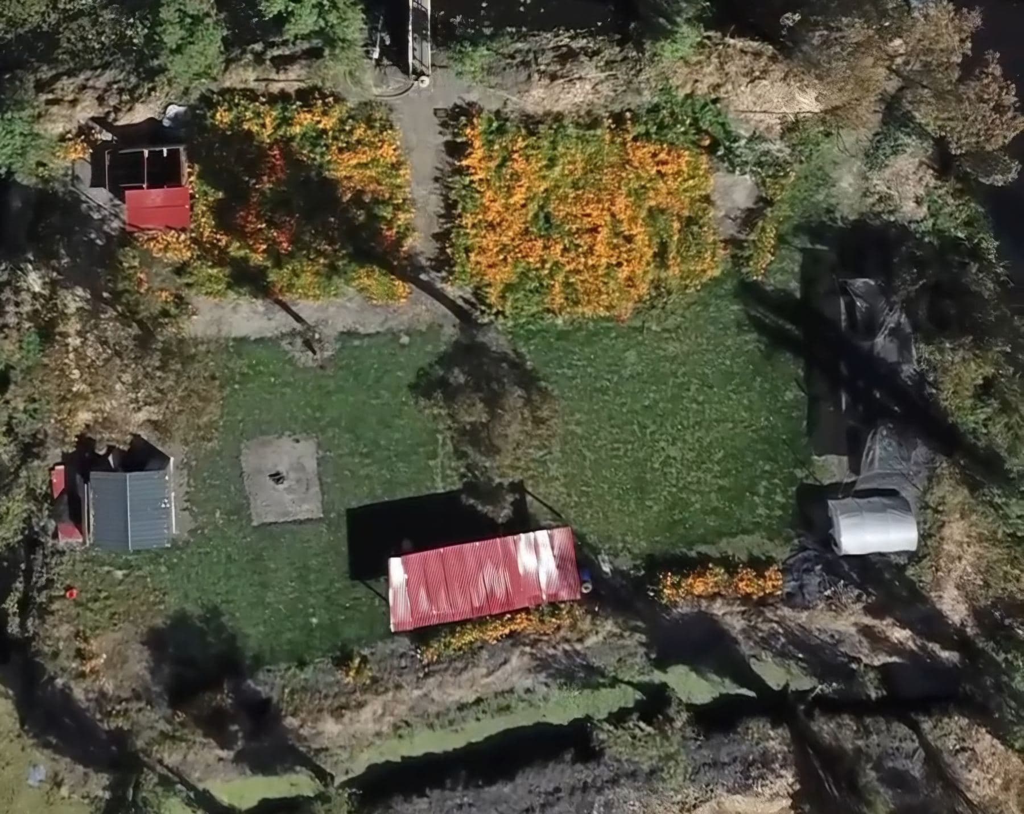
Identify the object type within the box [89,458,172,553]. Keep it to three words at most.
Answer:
shed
